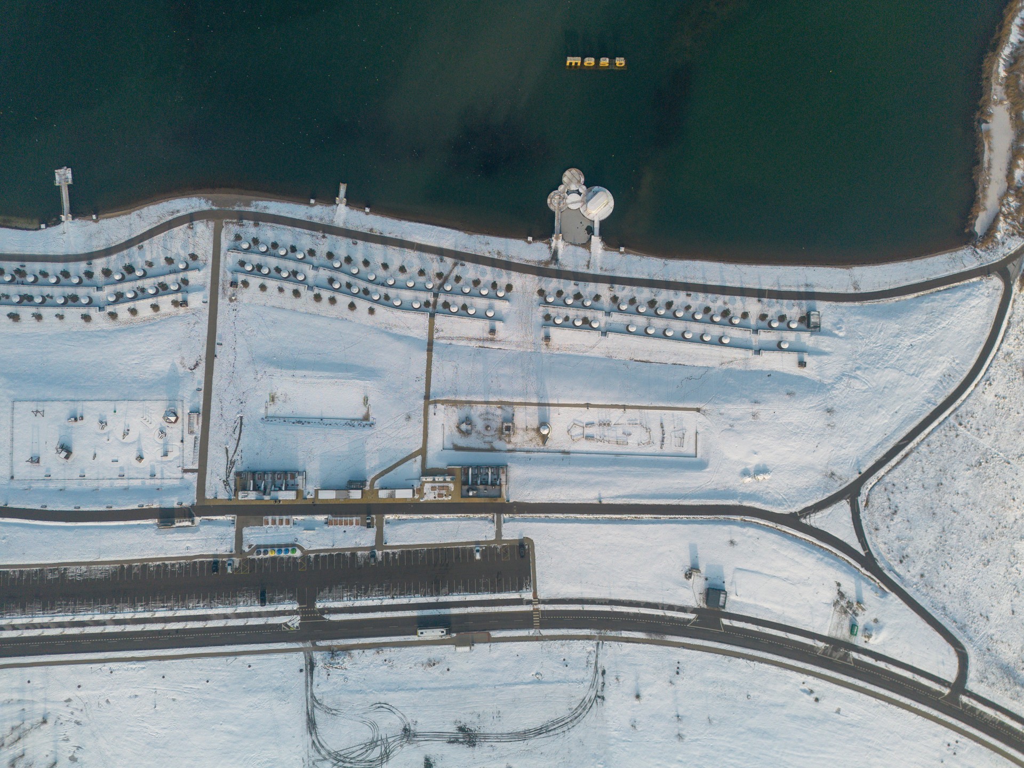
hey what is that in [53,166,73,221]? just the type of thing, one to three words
pier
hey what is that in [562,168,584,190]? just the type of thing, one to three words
pier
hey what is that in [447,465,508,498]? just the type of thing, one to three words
building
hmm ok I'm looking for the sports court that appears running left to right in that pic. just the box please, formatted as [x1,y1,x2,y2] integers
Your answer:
[265,396,371,422]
